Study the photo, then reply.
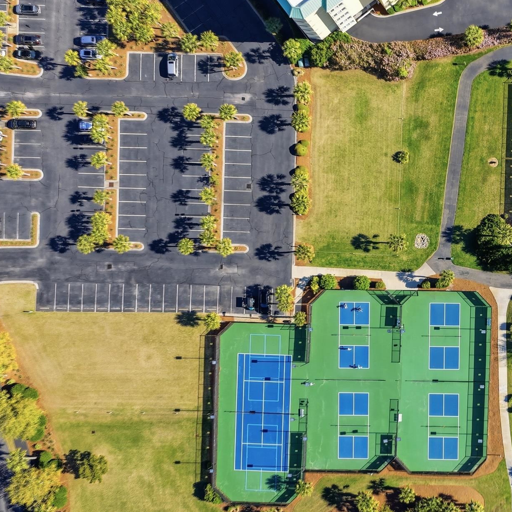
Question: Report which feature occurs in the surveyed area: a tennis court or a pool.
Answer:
tennis court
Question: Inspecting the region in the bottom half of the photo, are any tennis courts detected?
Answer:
Yes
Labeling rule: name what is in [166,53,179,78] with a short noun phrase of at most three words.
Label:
vehicle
